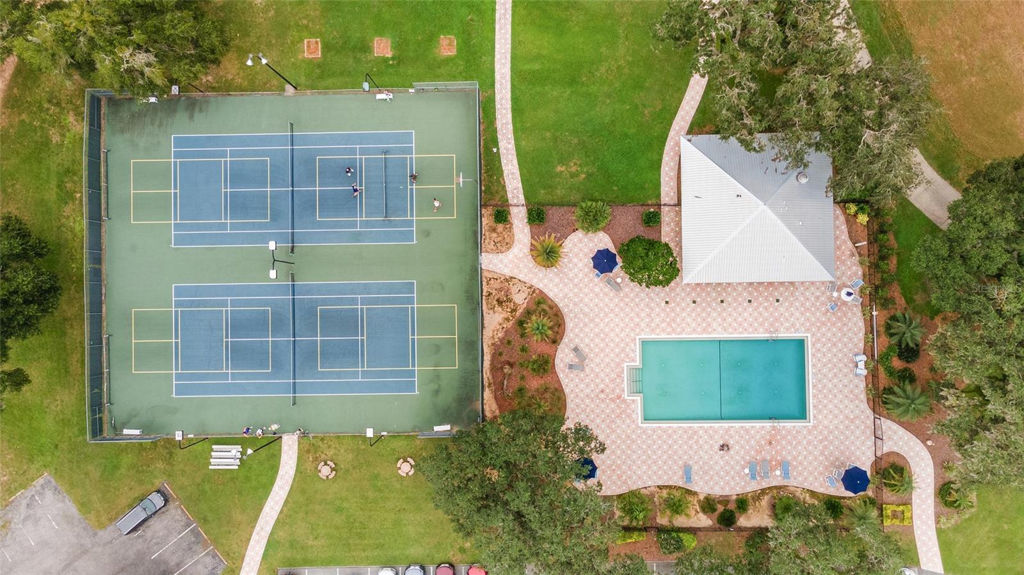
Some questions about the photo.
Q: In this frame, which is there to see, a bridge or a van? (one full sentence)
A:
The image shows a van.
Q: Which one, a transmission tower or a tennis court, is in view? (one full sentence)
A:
Looking from above, you can make out a tennis court.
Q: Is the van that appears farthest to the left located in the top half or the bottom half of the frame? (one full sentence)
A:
The van that appears farthest to the left is in the bottom half of the image.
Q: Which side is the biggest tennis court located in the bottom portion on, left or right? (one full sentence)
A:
It is on the left.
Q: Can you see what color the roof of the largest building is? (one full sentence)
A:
The roof of the largest building is white.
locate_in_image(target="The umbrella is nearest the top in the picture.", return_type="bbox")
[591,247,618,274]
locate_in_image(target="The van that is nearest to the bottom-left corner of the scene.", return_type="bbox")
[108,490,167,539]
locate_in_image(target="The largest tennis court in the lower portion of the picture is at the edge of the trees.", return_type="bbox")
[107,262,481,436]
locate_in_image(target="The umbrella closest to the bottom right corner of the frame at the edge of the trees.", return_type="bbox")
[839,465,869,494]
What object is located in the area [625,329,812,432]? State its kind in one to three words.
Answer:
swimming pool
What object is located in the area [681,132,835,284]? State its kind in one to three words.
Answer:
building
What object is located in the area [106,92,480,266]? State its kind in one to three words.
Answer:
tennis court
